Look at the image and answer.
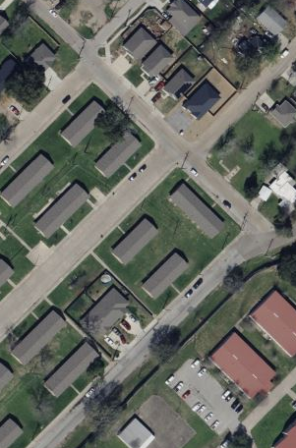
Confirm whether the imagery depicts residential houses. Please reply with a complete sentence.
Yes, this view includes a residential house.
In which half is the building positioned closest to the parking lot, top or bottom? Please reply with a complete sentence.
Seen from above, the building positioned closest to the parking lot lies in the bottom half of the view.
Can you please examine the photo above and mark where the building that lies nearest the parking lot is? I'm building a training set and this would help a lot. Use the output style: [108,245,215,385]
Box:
[211,332,274,398]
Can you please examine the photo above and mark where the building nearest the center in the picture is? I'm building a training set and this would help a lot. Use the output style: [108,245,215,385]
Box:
[112,217,157,263]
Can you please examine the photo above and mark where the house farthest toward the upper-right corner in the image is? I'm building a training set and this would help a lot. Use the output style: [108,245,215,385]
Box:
[257,6,286,35]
